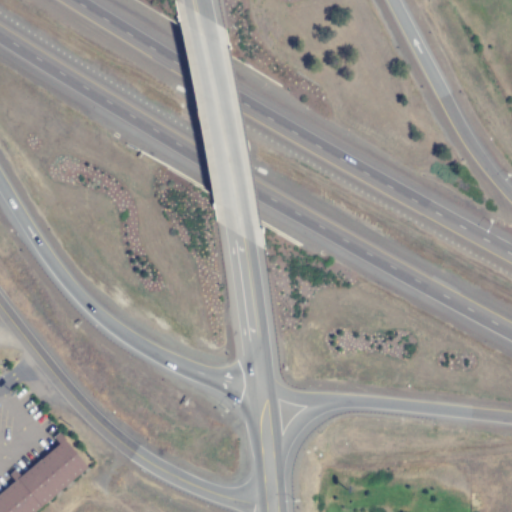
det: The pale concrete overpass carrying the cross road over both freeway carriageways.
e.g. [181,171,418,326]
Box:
[180,1,266,248]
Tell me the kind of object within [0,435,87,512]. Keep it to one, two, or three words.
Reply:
building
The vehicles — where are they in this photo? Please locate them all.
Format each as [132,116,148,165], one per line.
[6,429,11,440]
[46,436,55,446]
[16,389,28,400]
[256,166,269,176]
[2,470,11,481]
[228,394,240,403]
[32,412,44,421]
[30,448,40,458]
[37,414,48,424]
[8,465,16,474]
[21,454,31,466]
[28,406,39,416]
[248,363,254,375]
[86,302,96,313]
[24,402,34,410]
[16,458,27,470]
[26,451,35,462]
[38,438,50,451]
[0,476,8,487]
[174,85,186,94]
[46,424,58,435]
[166,361,178,370]
[8,198,18,210]
[34,236,42,247]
